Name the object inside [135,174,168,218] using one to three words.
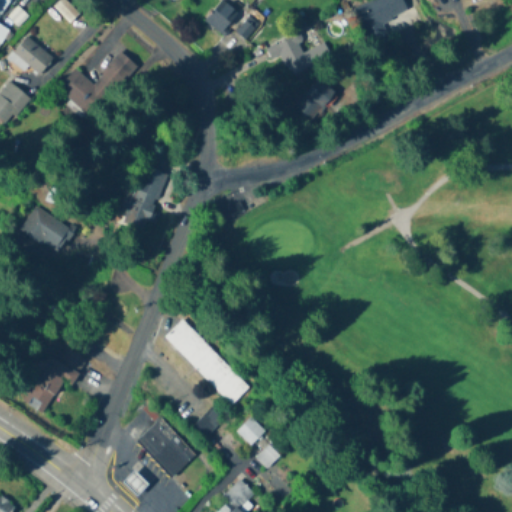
house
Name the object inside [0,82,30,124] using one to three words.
house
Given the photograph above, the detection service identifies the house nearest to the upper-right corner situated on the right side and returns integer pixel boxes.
[354,0,414,34]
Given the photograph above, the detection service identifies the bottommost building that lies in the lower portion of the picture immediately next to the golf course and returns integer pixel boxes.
[166,320,250,403]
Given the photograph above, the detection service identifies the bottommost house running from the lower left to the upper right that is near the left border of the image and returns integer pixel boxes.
[26,370,78,412]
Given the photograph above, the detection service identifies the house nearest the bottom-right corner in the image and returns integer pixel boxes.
[256,444,282,470]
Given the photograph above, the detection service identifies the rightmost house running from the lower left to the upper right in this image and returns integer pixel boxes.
[302,88,336,116]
